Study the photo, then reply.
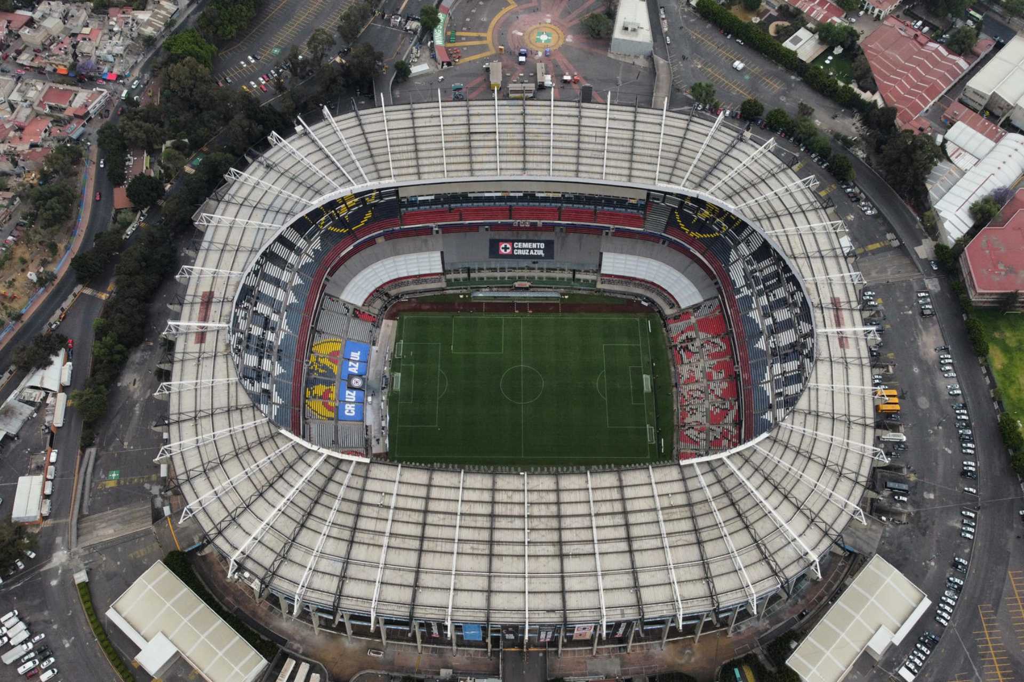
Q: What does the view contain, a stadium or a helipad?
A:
stadium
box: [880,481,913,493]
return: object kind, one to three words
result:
vehicle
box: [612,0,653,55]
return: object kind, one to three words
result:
building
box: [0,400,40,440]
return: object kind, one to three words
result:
shed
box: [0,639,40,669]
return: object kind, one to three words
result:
truck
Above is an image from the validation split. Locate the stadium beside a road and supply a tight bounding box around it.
[152,83,891,659]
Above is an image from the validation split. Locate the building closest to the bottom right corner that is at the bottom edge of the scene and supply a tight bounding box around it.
[781,555,931,682]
